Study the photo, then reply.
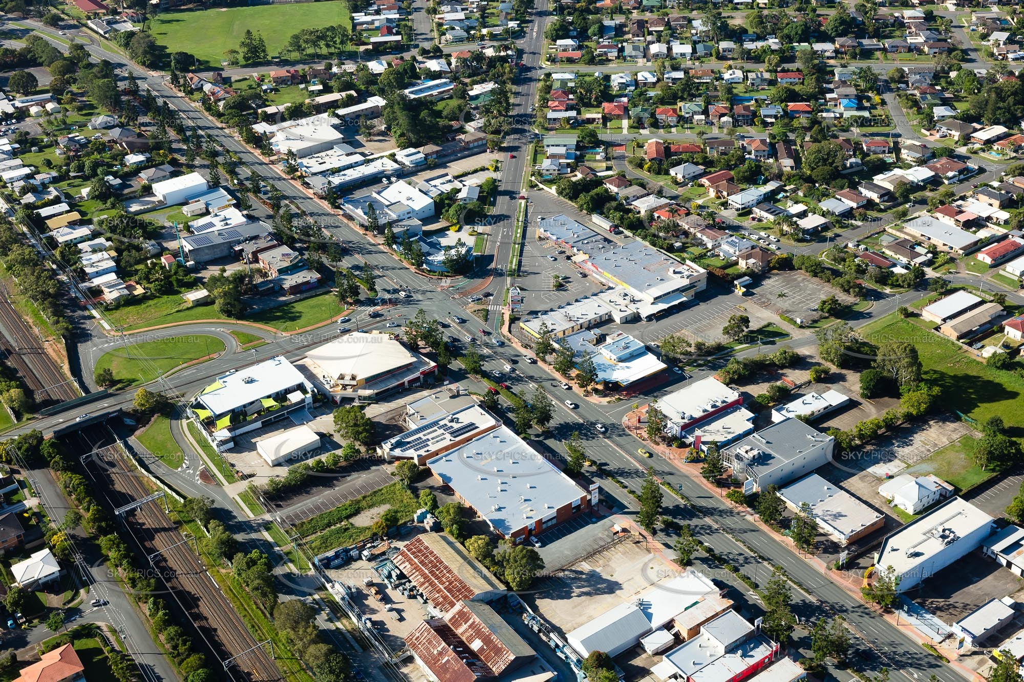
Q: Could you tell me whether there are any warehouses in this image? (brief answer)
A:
Yes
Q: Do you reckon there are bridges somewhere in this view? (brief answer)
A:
Yes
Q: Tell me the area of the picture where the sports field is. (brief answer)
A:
top left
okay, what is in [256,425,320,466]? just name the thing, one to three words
shed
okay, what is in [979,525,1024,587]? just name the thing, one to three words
building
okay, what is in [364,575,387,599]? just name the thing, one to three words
truck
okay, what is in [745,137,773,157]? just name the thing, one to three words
house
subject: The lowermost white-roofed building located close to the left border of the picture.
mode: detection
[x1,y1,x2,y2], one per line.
[11,553,61,595]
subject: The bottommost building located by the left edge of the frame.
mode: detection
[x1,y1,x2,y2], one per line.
[12,648,84,682]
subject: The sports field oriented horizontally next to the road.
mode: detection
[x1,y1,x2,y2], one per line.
[148,0,356,65]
